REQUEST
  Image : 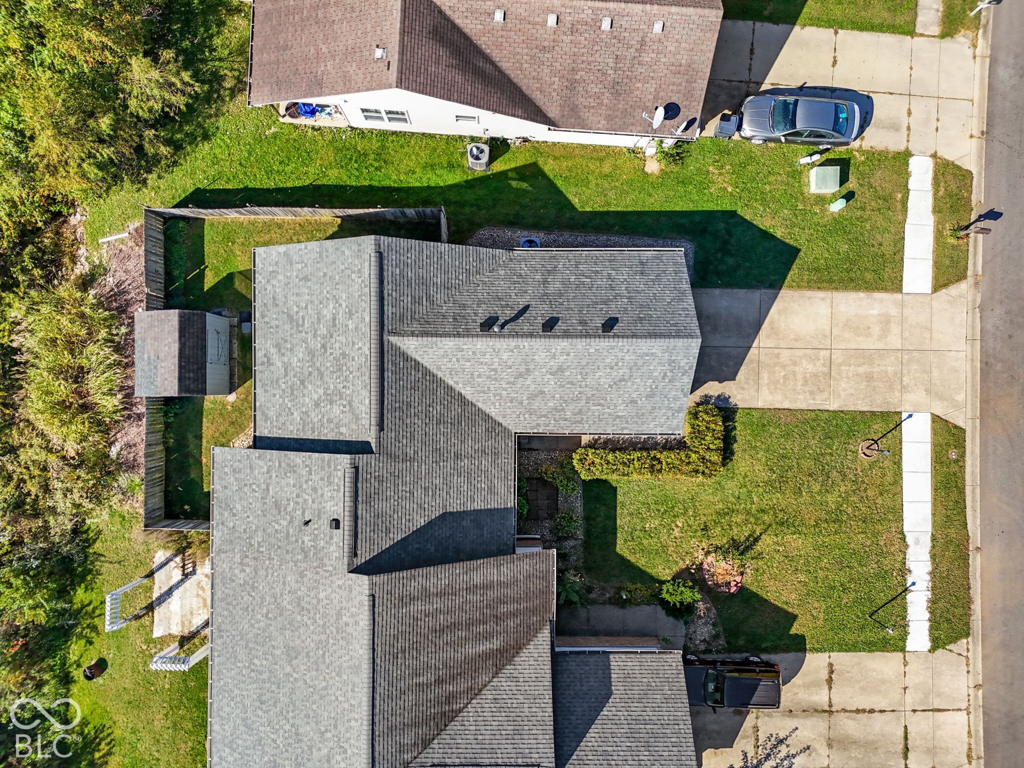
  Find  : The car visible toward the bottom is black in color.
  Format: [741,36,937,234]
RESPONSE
[684,654,786,717]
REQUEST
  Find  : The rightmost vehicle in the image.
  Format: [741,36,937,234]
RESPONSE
[737,85,859,147]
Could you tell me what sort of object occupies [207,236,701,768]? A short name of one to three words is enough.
house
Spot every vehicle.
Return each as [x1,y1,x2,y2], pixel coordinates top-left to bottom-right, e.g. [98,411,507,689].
[684,654,786,717]
[737,85,859,147]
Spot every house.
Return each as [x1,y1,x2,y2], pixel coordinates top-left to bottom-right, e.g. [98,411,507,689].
[207,236,701,768]
[245,0,724,154]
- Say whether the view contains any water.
No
